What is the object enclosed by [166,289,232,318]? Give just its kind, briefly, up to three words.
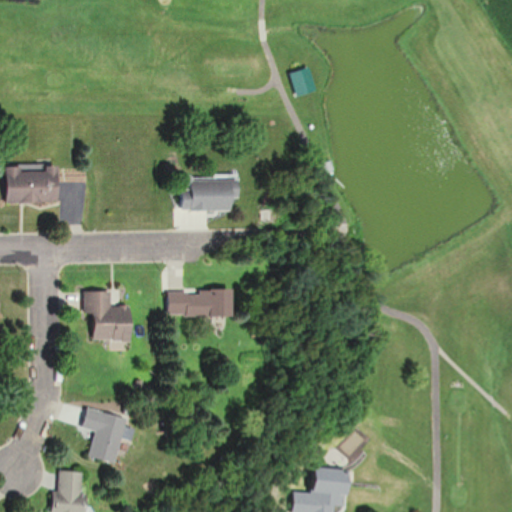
house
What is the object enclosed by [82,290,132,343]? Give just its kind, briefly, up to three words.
house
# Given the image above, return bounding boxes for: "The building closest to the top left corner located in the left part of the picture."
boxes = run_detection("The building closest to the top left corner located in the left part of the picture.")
[6,164,59,205]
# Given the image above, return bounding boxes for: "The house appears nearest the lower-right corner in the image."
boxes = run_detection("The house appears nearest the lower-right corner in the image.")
[290,468,350,512]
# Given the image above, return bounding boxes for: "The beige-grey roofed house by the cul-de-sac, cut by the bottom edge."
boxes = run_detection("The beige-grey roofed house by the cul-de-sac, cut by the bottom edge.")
[52,471,88,512]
